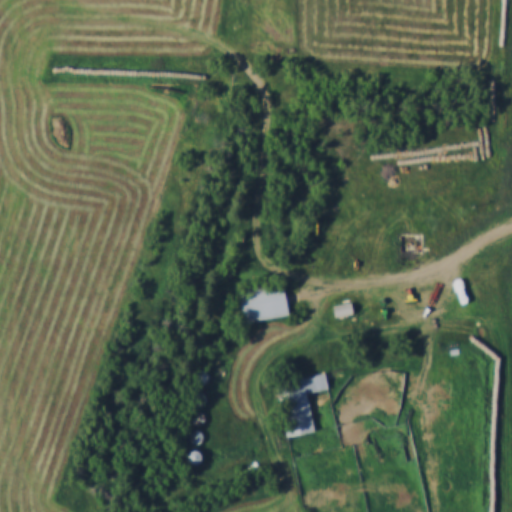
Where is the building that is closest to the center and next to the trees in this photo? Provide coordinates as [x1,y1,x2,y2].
[244,292,290,322]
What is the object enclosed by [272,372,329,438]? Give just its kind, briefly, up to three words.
house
